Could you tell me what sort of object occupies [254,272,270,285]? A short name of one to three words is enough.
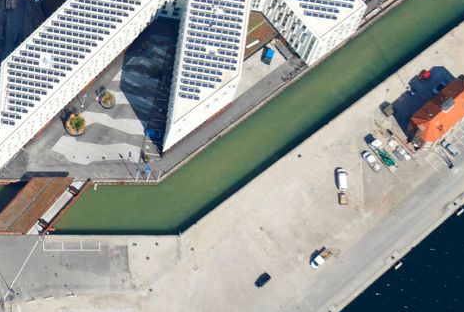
vehicle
